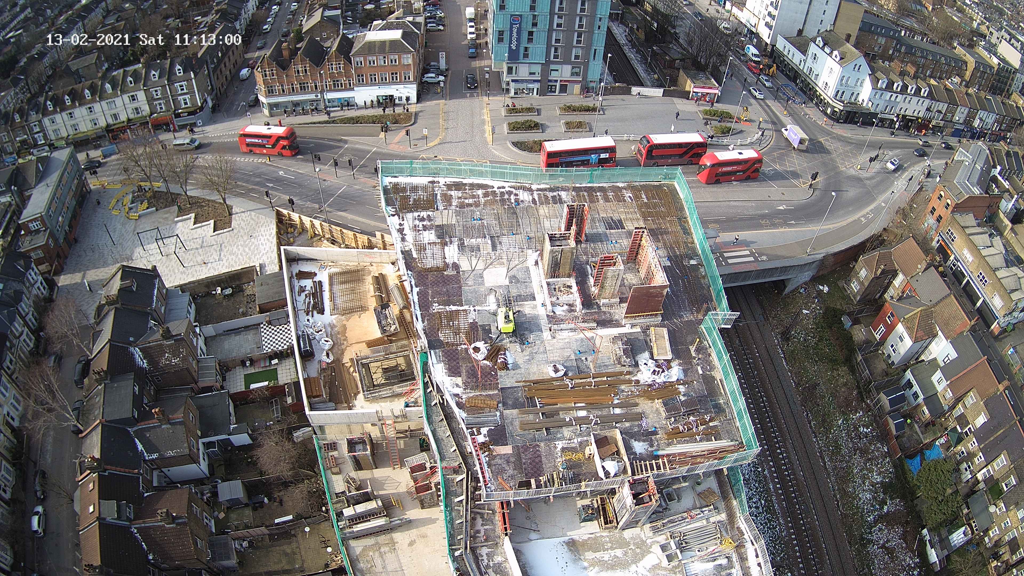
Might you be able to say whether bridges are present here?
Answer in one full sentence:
Yes, there's a bridge down there.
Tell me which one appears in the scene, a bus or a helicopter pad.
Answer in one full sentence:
The image shows a bus.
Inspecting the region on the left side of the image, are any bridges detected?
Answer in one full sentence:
No, the scene shows no bridge on the left side of the image.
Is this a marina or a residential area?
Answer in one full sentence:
It's a residential area.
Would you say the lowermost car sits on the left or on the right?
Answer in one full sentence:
You can find the lowermost car on the left side of the picture.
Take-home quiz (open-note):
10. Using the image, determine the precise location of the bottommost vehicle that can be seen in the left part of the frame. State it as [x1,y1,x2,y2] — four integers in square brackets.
[25,505,48,536]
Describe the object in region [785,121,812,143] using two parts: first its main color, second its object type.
white truck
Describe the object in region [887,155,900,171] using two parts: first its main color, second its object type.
white vehicle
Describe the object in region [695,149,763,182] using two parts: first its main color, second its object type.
red bus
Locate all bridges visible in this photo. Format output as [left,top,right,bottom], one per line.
[719,257,824,294]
